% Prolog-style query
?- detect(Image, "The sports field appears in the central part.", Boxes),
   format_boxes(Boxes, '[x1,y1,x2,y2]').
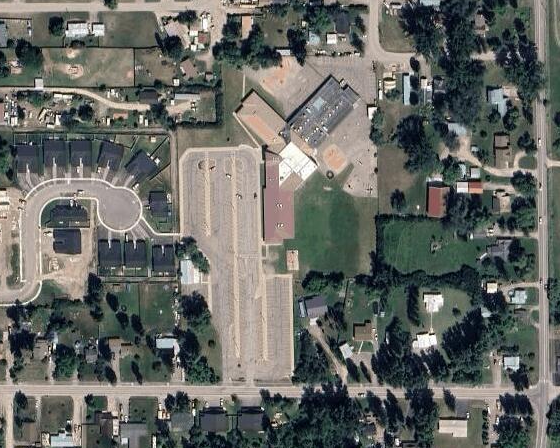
[283,172,375,269]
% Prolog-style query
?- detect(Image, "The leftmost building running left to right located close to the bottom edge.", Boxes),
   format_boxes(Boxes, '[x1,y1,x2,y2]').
[42,428,80,447]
